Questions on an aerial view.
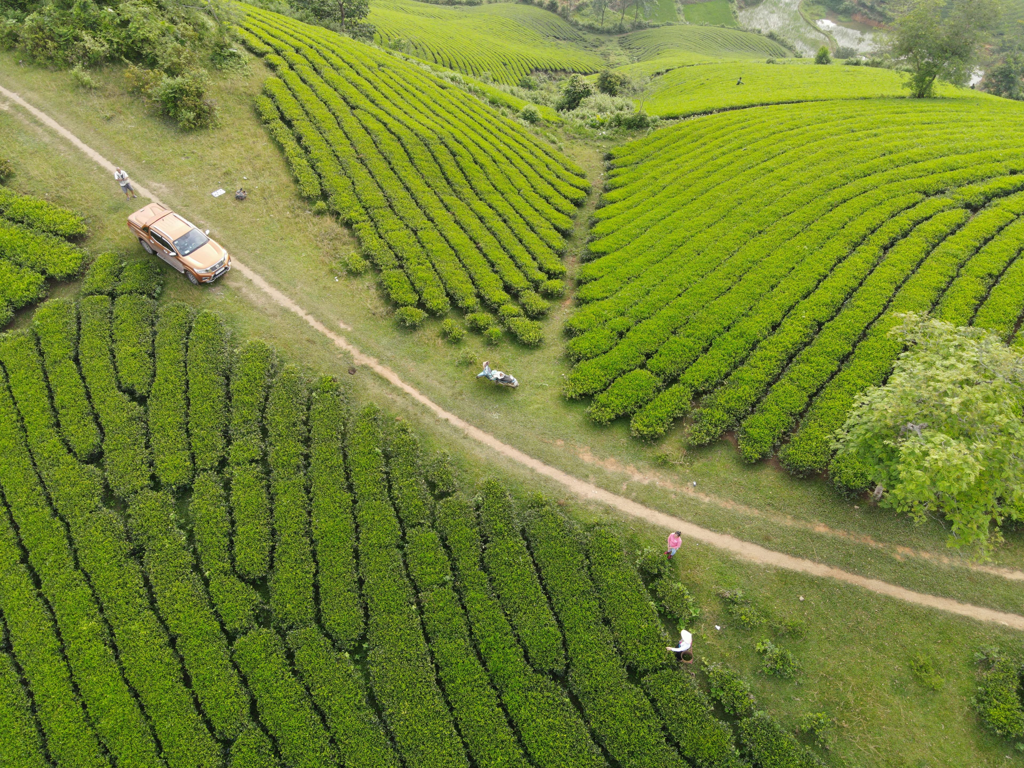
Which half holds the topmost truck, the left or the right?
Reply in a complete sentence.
You can find the topmost truck on the left side of the picture.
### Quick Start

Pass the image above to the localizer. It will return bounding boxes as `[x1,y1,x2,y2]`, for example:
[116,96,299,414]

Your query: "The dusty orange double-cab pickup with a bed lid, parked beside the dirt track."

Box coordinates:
[127,207,234,285]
